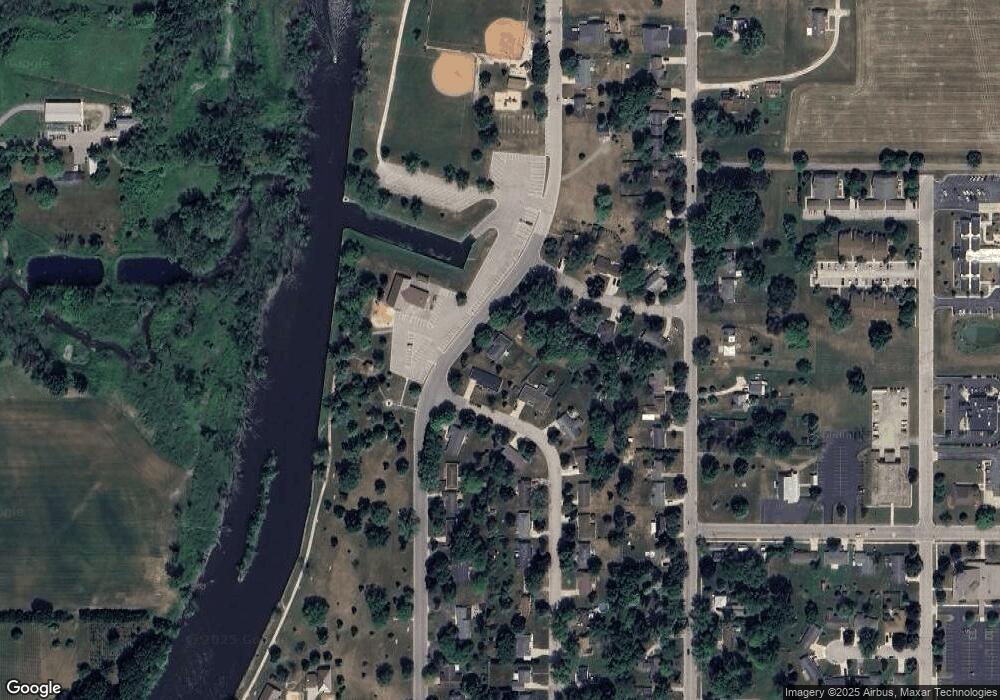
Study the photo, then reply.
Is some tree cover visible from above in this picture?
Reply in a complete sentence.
Yes, some tree cover is visible.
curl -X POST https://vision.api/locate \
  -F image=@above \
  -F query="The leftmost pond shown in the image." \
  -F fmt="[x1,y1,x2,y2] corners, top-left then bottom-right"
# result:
[26,256,103,290]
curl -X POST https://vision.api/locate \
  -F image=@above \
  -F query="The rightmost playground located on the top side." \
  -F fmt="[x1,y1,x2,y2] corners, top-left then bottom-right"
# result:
[494,92,521,110]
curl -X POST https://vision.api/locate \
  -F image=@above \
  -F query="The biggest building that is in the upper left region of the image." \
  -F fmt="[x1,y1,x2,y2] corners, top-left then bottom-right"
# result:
[44,103,81,122]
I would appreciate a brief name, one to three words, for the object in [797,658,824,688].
house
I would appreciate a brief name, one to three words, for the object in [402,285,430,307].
building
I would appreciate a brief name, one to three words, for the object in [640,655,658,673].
house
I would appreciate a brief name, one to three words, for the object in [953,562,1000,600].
building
